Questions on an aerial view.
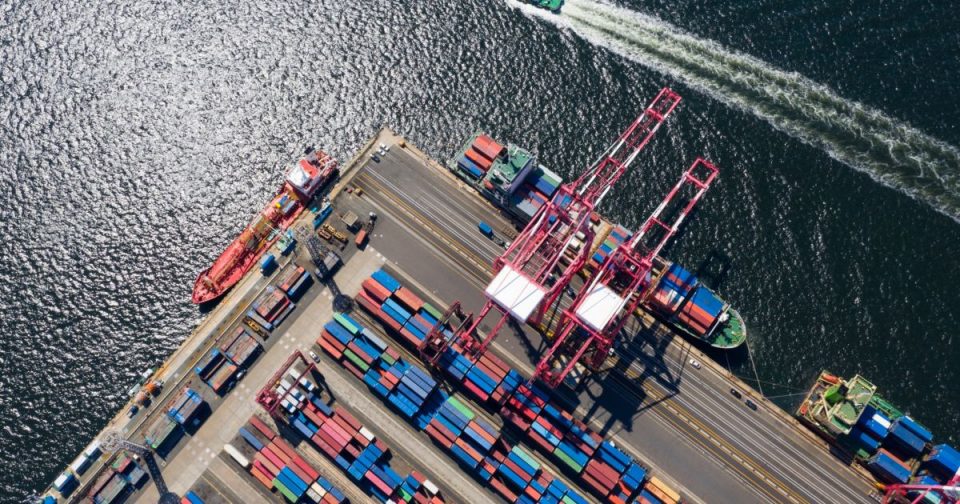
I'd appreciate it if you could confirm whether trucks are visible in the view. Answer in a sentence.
Yes, the picture does show a truck.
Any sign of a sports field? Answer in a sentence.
No, the scene contains no sports field.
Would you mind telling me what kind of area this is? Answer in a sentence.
The area seen from above is a port.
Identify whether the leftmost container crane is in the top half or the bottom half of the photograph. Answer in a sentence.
The bottom half of the photo is where the leftmost container crane is.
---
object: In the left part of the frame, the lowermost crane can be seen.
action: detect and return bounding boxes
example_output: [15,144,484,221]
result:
[256,348,325,420]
